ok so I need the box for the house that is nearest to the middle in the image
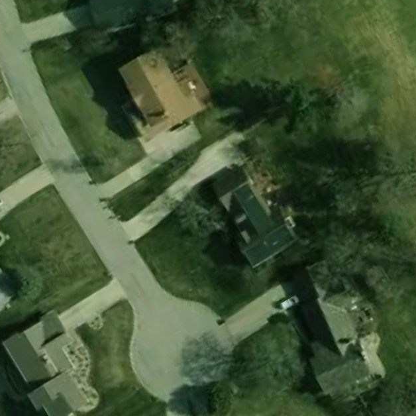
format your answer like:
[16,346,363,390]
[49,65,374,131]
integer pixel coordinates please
[213,168,297,270]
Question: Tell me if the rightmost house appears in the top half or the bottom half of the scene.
bottom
